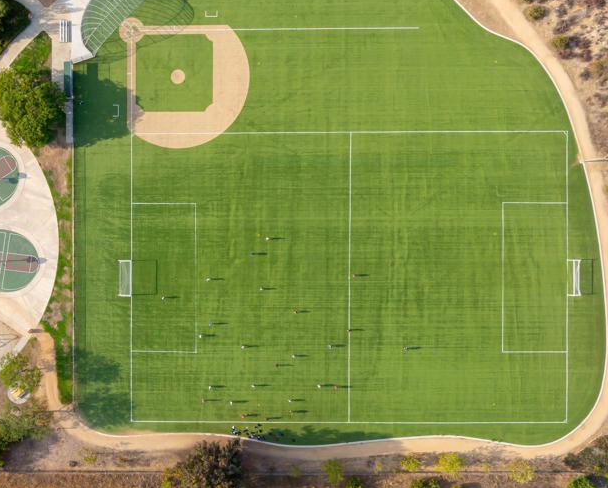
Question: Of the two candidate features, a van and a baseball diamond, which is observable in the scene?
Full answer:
There is a baseball diamond in the scene.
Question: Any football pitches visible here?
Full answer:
Yes, the picture does show a football pitch.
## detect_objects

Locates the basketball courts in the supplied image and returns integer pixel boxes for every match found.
[0,150,19,208]
[0,229,39,292]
